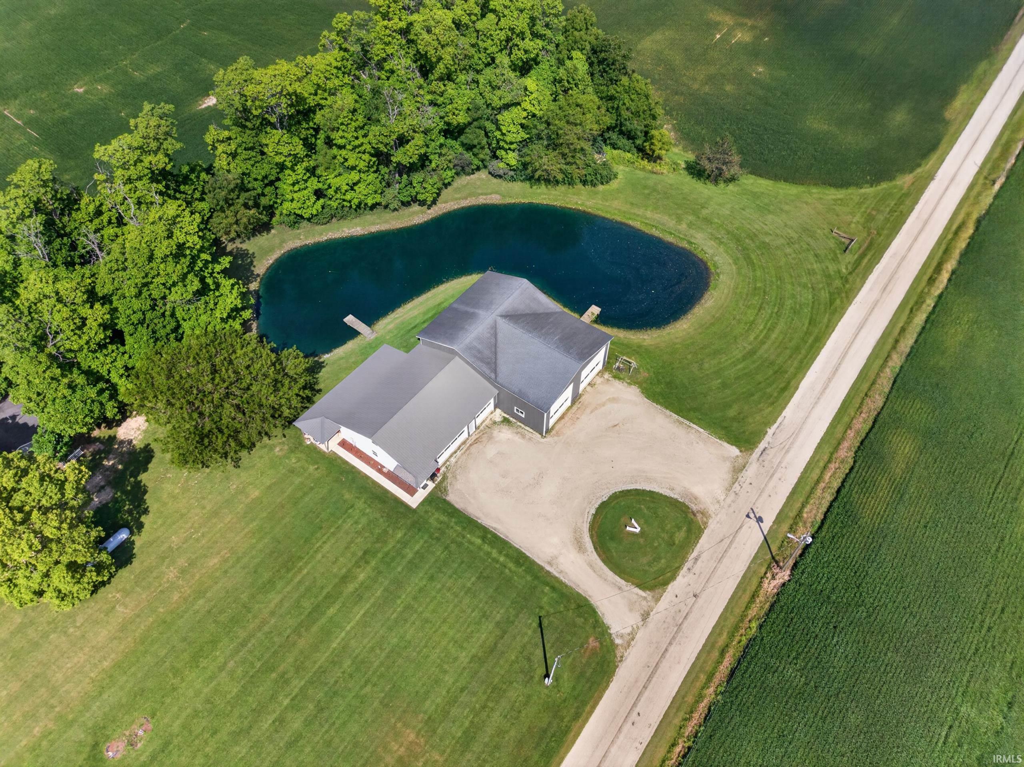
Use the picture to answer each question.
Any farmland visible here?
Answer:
Yes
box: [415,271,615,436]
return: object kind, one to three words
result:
building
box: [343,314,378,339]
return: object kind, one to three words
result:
pier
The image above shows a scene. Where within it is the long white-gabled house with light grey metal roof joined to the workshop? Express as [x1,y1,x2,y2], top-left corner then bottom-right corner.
[293,343,498,497]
